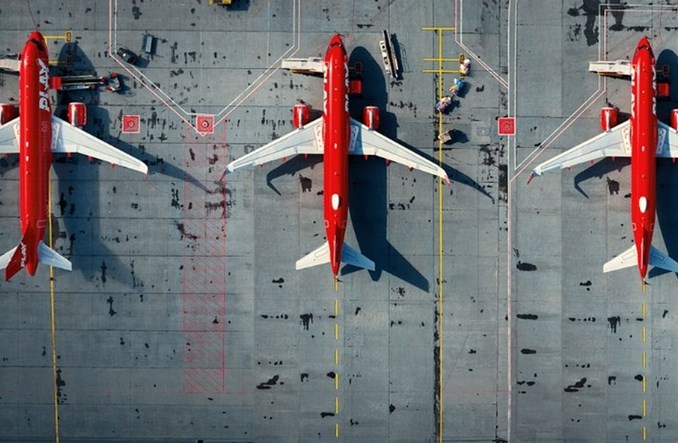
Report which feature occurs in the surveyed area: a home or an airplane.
airplane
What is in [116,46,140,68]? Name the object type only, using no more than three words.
car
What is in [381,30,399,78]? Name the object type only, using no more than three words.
work vehicle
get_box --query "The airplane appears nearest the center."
[217,34,451,282]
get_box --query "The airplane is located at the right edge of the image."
[532,37,678,286]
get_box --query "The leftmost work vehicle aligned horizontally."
[58,74,106,89]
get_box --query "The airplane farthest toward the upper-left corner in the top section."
[0,32,146,281]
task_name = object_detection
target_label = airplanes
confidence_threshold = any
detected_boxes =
[0,32,146,281]
[217,34,451,282]
[532,37,678,286]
